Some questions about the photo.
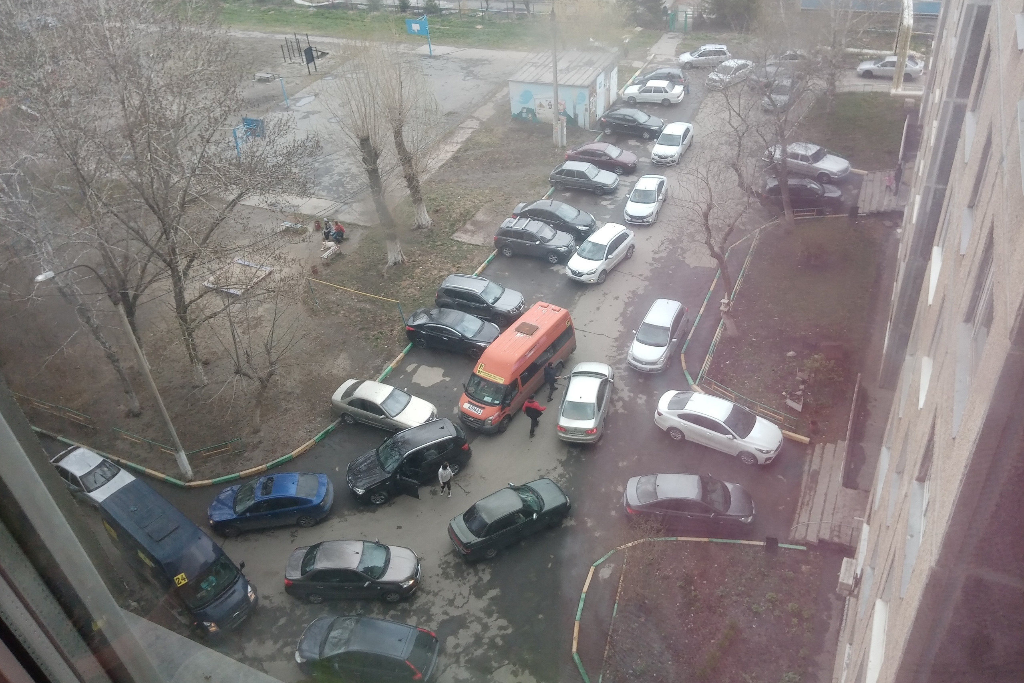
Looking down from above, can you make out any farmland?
No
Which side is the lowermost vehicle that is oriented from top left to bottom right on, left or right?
left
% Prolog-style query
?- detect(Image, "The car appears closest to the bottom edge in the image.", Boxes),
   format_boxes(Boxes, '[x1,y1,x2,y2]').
[292,612,448,683]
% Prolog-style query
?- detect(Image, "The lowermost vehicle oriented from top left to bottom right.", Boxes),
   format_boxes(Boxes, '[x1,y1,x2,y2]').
[102,483,255,639]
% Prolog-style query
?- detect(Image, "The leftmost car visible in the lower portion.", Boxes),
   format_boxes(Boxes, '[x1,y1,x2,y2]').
[45,445,144,520]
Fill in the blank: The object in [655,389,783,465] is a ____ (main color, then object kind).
white car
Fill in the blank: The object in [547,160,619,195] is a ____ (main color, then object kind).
gray car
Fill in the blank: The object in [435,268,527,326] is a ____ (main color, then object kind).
gray car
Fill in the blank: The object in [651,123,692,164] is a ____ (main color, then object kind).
white car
